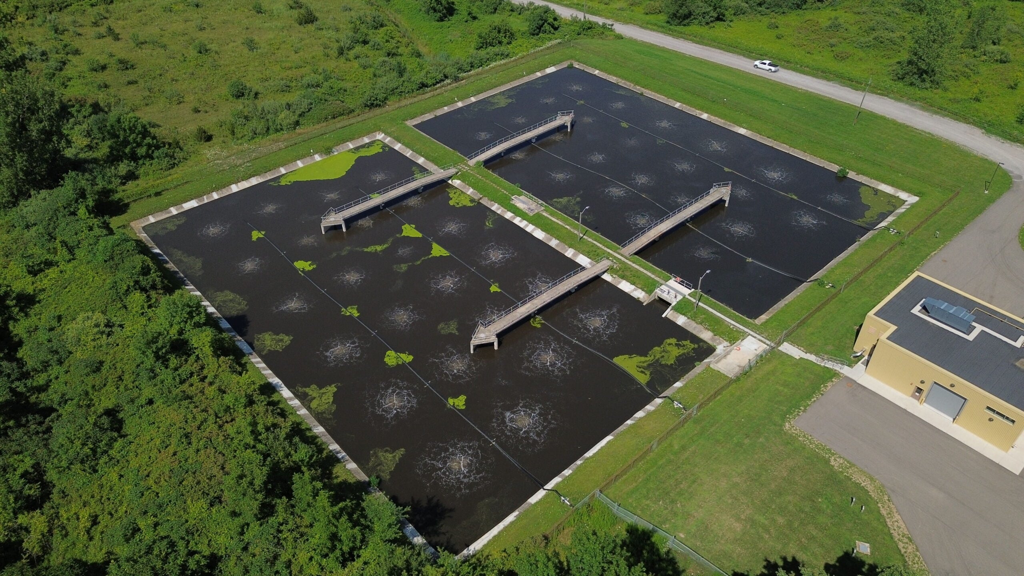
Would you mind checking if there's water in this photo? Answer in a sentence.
Yes, there's water in this view.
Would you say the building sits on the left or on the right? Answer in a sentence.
It is on the right.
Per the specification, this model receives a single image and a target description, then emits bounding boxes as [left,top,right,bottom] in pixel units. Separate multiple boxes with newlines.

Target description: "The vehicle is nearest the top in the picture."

[753,59,780,72]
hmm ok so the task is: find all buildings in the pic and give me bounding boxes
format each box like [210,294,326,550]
[853,270,1024,452]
